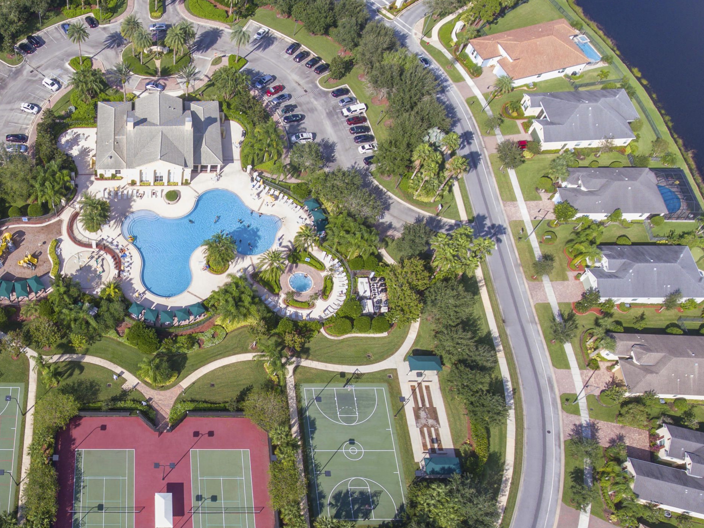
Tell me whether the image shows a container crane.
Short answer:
No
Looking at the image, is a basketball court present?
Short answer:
Yes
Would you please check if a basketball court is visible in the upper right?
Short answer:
No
